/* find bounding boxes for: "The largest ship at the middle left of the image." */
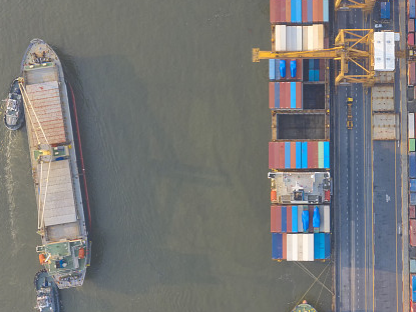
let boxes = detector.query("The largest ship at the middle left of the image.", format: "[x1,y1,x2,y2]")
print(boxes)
[23,36,94,292]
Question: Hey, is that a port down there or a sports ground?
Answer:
port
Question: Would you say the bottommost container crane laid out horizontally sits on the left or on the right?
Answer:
right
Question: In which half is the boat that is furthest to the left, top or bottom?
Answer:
top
